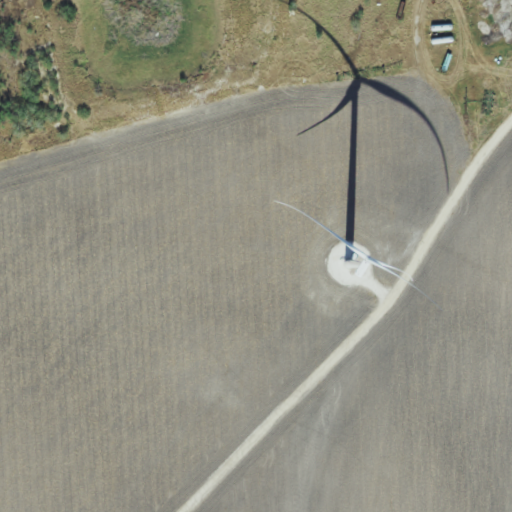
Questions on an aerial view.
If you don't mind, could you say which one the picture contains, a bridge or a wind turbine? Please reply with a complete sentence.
It is a wind turbine that can be seen here.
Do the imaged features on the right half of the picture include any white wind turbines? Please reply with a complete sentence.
Yes, looking on the right half of the picture, one can make out a white wind turbine.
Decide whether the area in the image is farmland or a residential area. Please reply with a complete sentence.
This looks like farmland.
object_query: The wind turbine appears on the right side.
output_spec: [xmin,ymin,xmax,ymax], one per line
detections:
[271,200,462,326]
